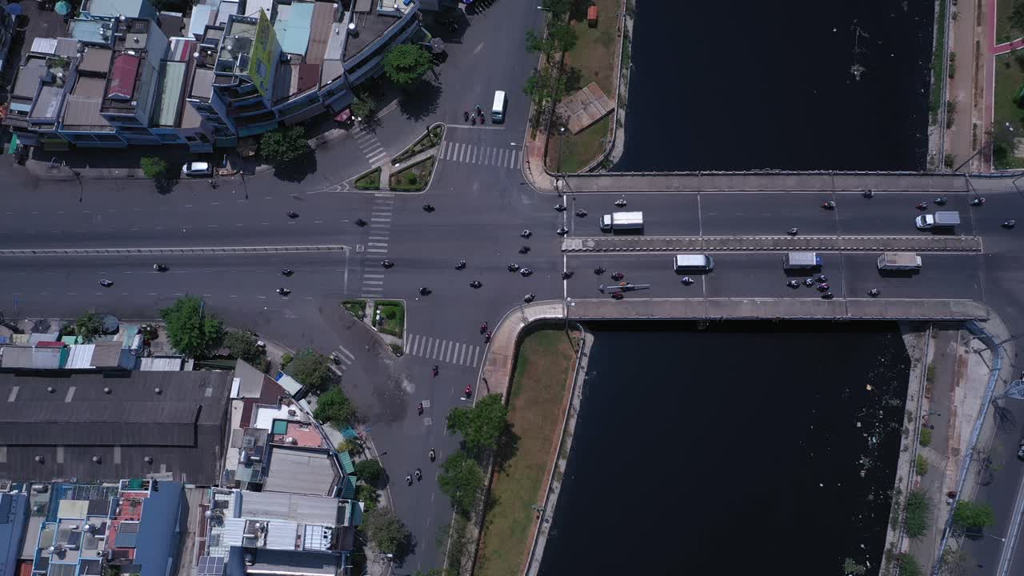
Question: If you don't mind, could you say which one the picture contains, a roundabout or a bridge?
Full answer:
I can see a bridge in this picture.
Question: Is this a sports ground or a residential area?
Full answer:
This looks like a residential area.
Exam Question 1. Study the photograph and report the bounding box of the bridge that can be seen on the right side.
[563,171,993,322]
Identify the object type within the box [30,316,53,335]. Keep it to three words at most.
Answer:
umbrella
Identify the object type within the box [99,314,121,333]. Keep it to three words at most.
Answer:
umbrella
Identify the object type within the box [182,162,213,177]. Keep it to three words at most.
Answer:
car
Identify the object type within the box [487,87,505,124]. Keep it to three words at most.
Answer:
vehicle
